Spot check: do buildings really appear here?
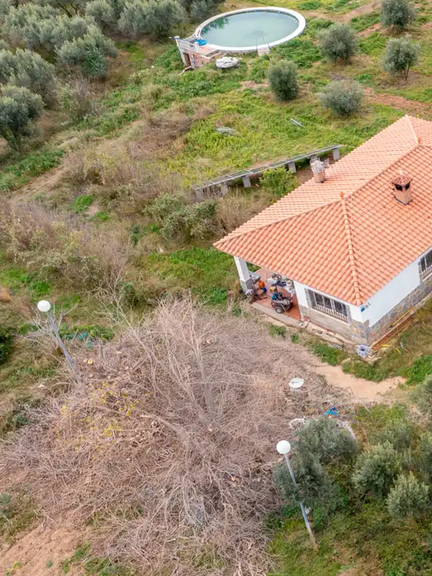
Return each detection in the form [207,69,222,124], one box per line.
[159,24,223,65]
[213,113,432,348]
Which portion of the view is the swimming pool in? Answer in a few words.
top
